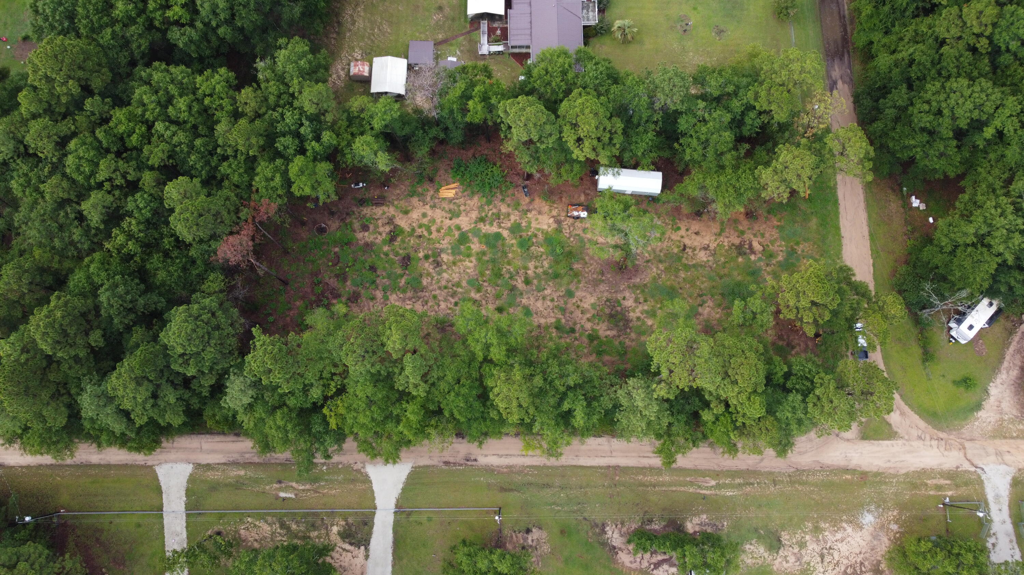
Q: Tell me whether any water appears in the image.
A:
No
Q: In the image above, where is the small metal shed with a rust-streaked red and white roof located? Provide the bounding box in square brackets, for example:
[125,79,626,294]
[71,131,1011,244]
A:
[351,61,372,80]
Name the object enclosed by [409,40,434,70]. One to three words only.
shed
